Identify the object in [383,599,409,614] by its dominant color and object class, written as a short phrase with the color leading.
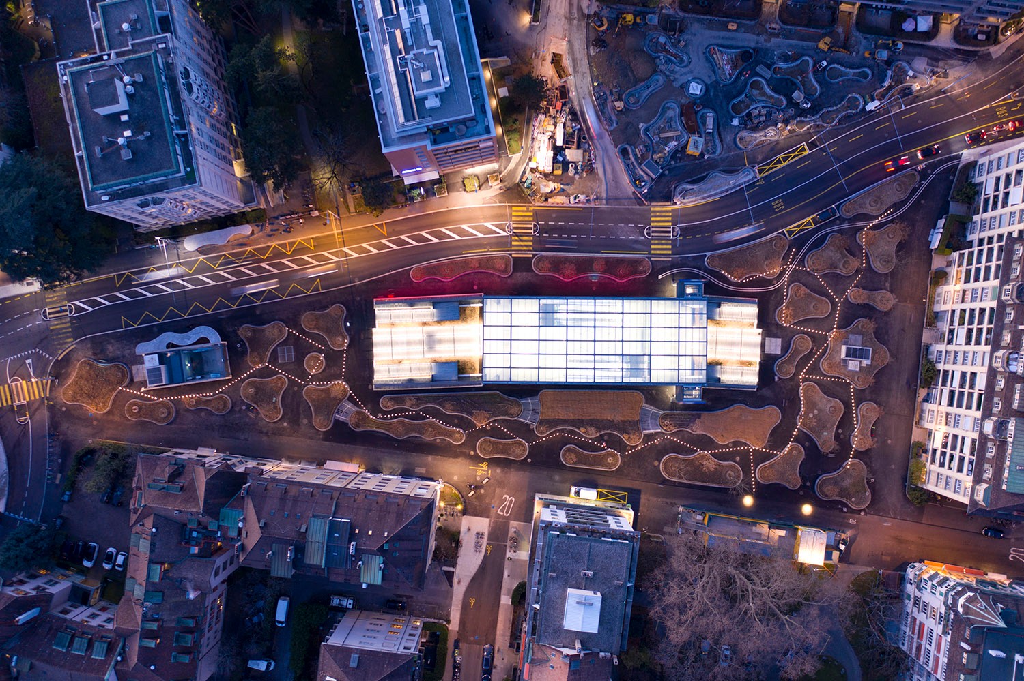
black car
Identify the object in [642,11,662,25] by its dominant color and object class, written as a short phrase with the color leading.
blue vehicle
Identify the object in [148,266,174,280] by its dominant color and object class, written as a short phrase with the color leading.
white car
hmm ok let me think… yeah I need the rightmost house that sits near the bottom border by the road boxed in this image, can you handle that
[895,559,1024,681]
